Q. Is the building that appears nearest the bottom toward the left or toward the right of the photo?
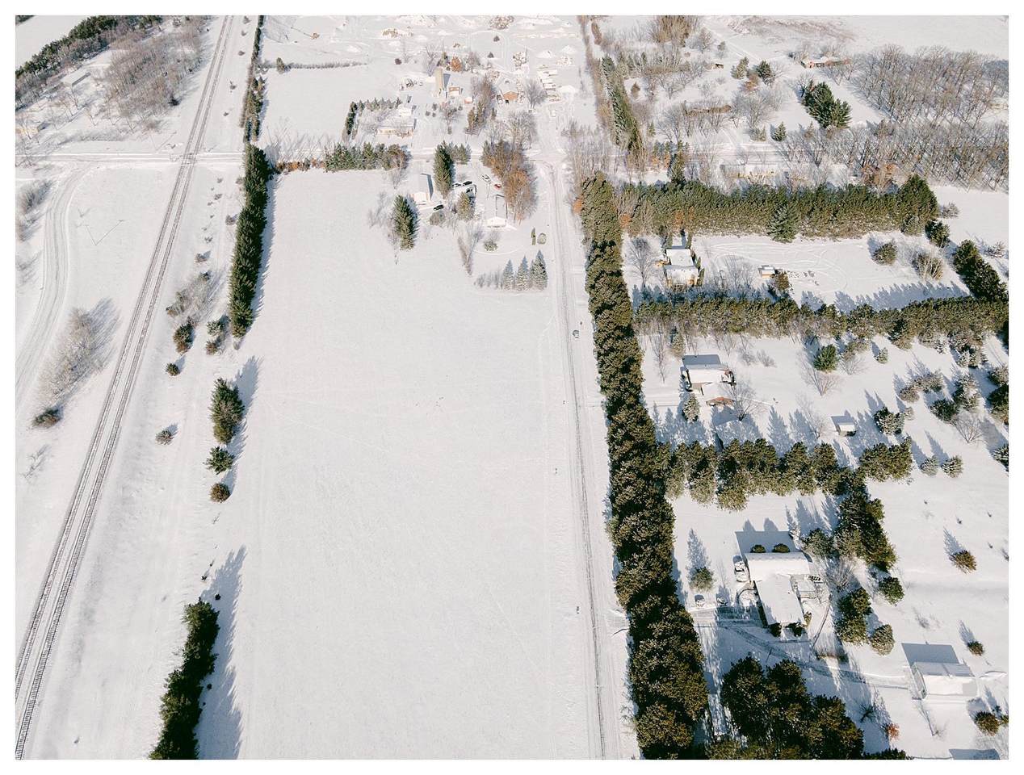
right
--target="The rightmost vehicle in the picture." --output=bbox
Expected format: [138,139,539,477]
[732,558,746,581]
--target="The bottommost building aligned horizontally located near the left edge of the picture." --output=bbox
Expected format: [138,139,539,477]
[5,119,49,135]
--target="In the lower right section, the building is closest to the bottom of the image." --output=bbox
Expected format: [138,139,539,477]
[913,664,979,700]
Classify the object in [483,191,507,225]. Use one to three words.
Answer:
house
